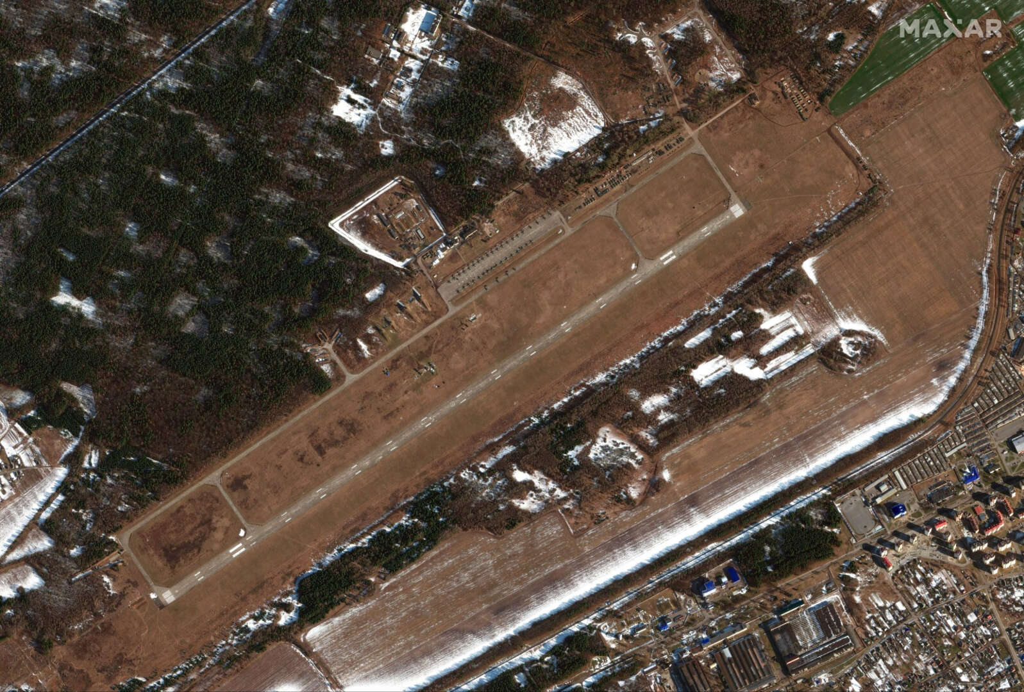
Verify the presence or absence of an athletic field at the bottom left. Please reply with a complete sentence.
No, looking at the bottom left, there is no athletic field.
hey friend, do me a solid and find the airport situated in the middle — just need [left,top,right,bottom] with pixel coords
[0,90,872,680]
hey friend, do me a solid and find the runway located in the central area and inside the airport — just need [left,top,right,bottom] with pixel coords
[158,201,747,608]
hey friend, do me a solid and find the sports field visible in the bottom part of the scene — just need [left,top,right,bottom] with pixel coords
[839,493,878,536]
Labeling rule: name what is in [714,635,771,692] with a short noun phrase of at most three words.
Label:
building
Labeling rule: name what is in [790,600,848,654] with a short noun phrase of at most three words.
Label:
building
